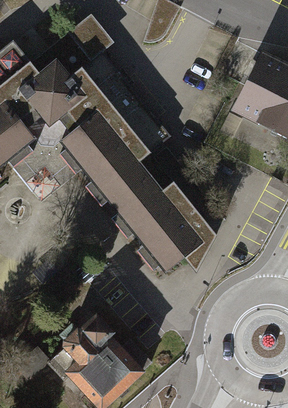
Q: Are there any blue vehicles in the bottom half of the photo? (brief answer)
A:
No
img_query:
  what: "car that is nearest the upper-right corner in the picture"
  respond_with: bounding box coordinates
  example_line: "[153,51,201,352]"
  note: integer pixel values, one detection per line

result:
[190,62,212,78]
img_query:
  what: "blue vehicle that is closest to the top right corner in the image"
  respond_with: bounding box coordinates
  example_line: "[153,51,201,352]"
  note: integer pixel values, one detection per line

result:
[183,74,206,90]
